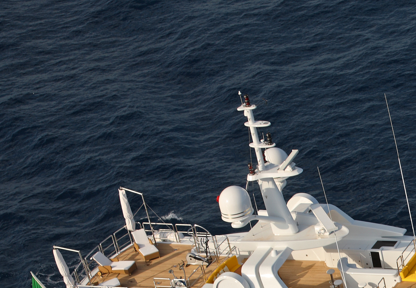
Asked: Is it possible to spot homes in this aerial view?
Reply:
No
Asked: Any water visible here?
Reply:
Yes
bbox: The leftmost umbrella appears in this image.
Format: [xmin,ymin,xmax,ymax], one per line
[53,246,92,288]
